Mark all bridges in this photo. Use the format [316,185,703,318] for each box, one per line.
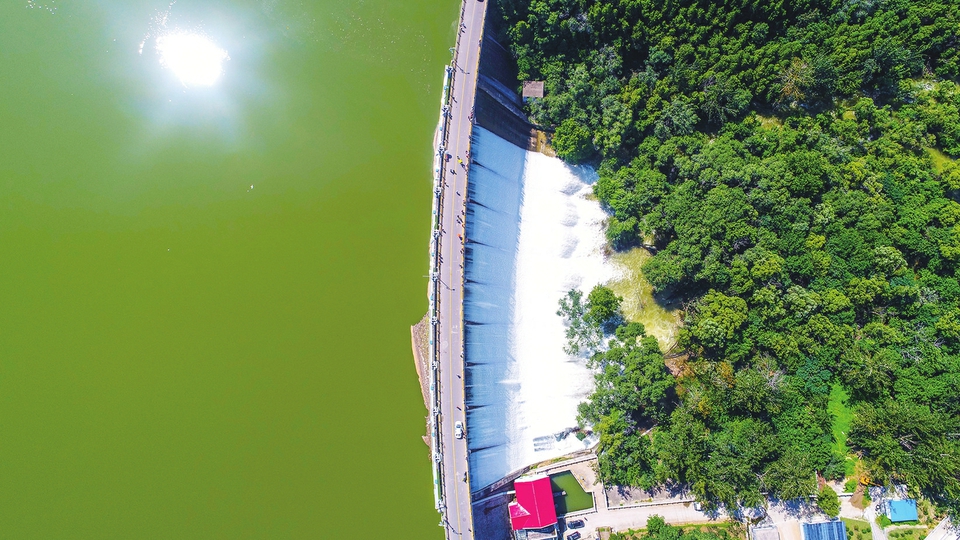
[438,0,488,540]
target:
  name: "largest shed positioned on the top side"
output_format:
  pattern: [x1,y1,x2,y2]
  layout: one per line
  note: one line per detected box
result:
[522,81,544,101]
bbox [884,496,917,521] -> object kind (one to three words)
shed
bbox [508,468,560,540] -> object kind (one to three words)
building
